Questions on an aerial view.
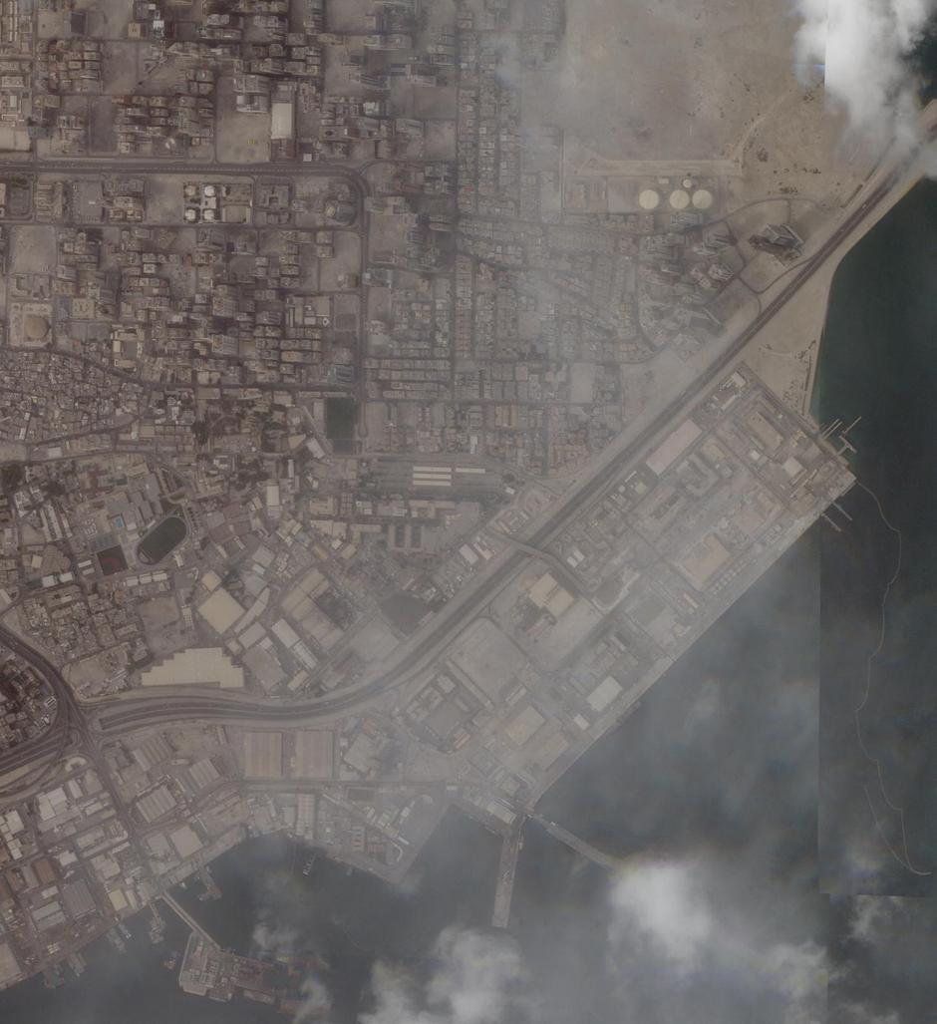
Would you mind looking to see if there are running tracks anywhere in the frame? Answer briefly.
Yes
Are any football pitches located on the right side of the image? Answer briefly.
No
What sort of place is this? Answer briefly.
port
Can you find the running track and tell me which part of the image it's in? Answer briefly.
left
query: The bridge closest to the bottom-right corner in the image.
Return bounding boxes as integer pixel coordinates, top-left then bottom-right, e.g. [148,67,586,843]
[481,523,606,613]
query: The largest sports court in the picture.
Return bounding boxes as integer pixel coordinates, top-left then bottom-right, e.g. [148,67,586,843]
[96,545,127,575]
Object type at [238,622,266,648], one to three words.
building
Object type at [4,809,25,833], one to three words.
building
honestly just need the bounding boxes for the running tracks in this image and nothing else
[134,515,190,567]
